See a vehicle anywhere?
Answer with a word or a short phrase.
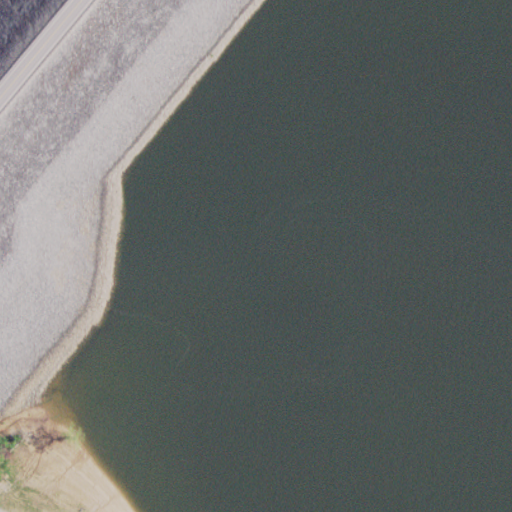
No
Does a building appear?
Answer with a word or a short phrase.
No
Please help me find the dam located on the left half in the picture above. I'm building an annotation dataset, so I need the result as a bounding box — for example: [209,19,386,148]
[0,0,274,426]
